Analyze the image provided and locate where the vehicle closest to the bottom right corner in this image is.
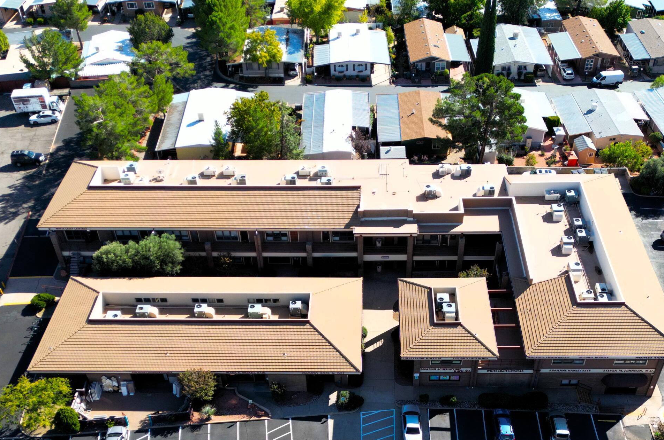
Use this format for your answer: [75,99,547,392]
[546,409,571,440]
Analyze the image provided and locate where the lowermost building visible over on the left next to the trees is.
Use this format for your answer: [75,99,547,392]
[28,275,364,390]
